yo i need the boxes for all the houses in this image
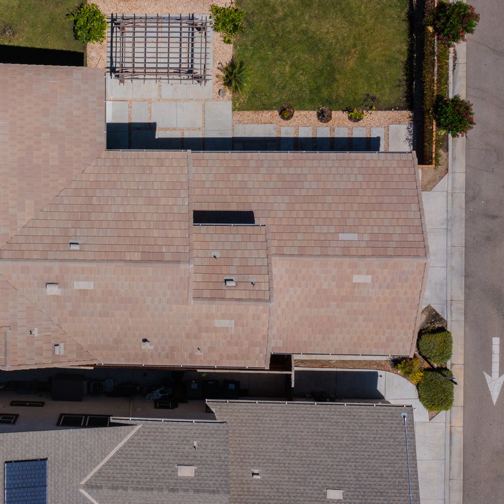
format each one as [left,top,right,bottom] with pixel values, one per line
[0,385,423,504]
[0,61,434,376]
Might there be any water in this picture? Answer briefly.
No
